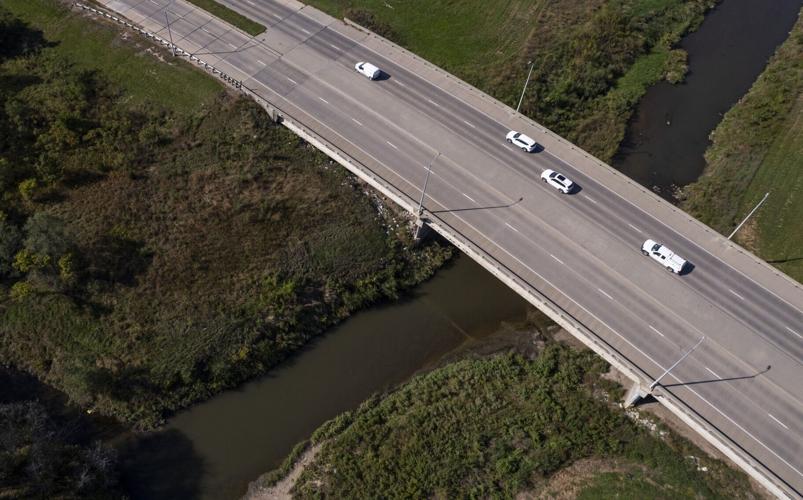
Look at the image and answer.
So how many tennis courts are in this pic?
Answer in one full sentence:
The photo contains no tennis courts.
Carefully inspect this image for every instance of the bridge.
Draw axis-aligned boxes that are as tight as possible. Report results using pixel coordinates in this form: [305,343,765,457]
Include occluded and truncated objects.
[235,16,803,500]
